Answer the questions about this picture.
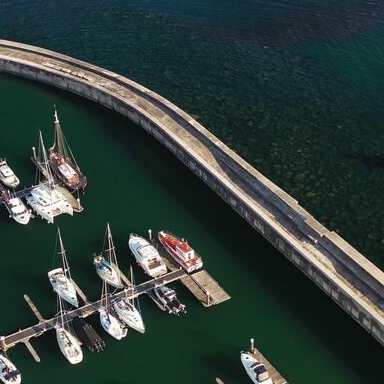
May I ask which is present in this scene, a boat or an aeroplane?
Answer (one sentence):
Of the two, only a boat appears.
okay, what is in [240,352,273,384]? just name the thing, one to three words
boat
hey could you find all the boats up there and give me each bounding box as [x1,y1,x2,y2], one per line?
[5,197,31,227]
[46,107,96,193]
[240,352,273,384]
[130,234,170,279]
[0,150,22,191]
[27,133,80,230]
[91,221,126,296]
[159,228,208,279]
[52,284,84,369]
[45,227,85,315]
[0,341,22,384]
[95,274,130,343]
[77,319,108,357]
[111,264,147,335]
[153,284,184,318]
